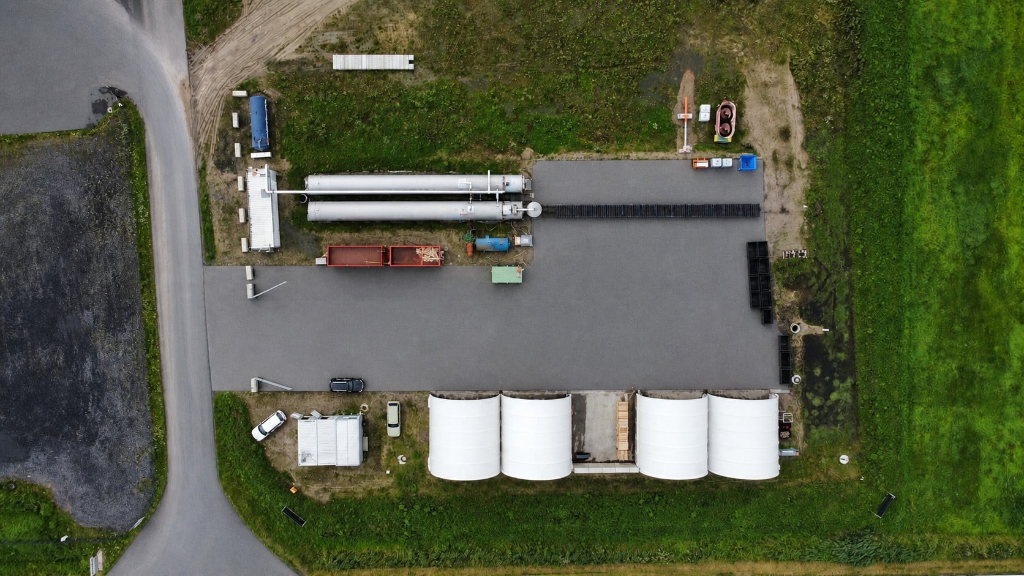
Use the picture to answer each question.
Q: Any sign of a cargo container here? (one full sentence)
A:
Yes, there's a cargo container here.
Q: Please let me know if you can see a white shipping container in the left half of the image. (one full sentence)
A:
Yes, a white shipping container can be seen in the left half of the image.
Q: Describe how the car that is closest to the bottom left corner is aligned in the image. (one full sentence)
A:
In this picture, the car that is closest to the bottom left corner lies diagonally.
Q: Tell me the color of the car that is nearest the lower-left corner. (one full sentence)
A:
The color of the car that is nearest the lower-left corner is white.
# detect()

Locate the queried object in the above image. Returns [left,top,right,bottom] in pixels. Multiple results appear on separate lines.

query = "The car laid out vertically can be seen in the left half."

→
[385,400,402,437]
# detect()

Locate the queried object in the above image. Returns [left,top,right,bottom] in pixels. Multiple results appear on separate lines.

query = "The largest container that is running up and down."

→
[247,167,286,252]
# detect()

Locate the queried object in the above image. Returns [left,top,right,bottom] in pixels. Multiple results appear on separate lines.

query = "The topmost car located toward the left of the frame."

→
[330,376,365,394]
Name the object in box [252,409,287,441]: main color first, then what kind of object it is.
white car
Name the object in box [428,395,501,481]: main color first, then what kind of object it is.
white tent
